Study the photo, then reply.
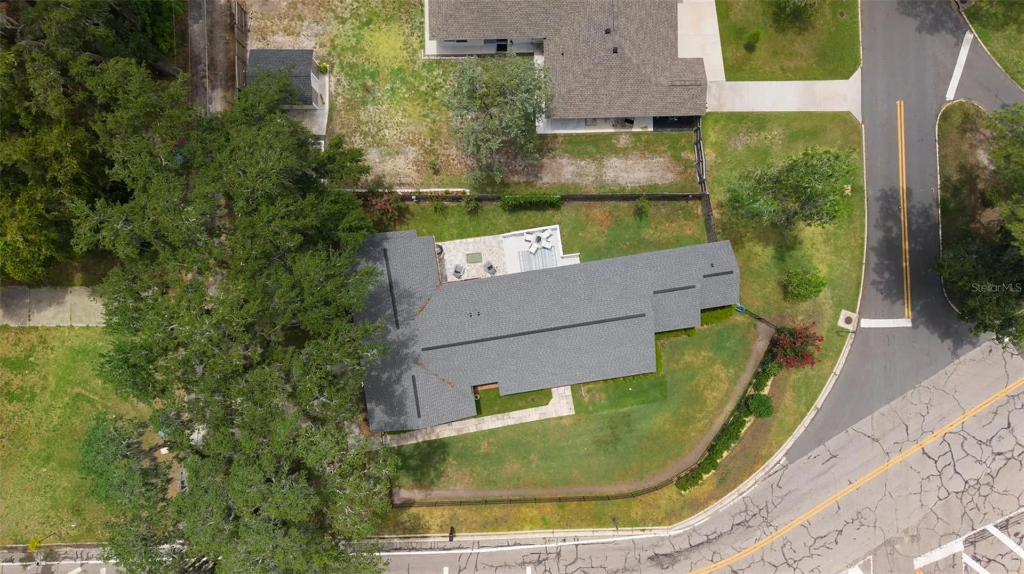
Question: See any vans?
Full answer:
No, no van can be seen from above.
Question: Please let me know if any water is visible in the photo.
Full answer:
No, there is no water in the image.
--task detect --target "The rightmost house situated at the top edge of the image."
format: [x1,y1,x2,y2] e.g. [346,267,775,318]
[427,0,707,120]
